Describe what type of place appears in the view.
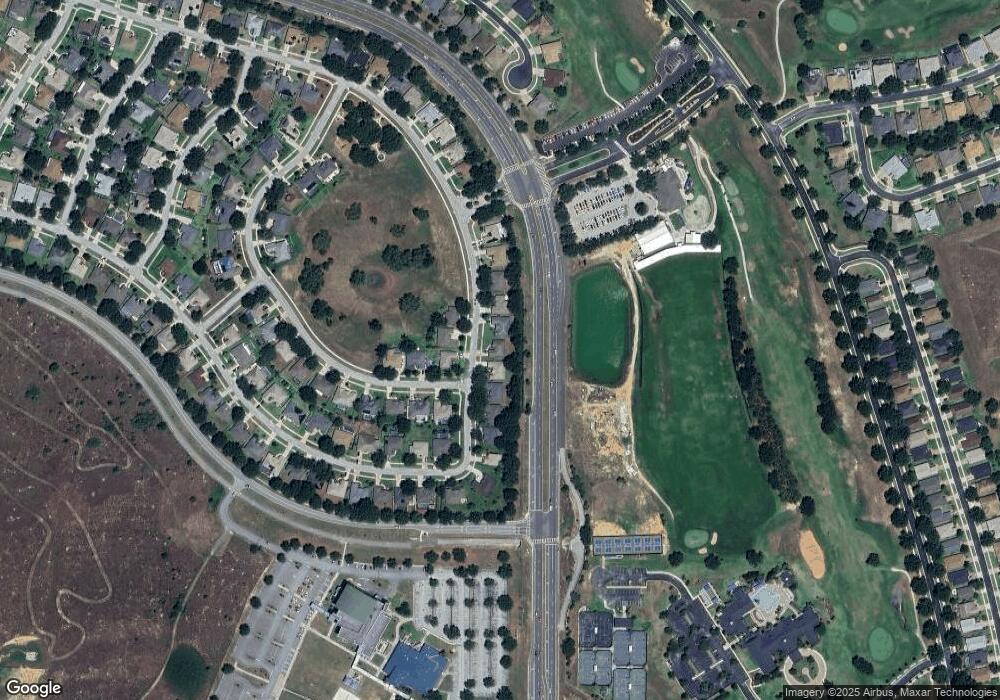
residential area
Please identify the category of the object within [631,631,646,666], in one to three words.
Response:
tennis court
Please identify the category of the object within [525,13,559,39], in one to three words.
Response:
house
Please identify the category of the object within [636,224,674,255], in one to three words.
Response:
building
